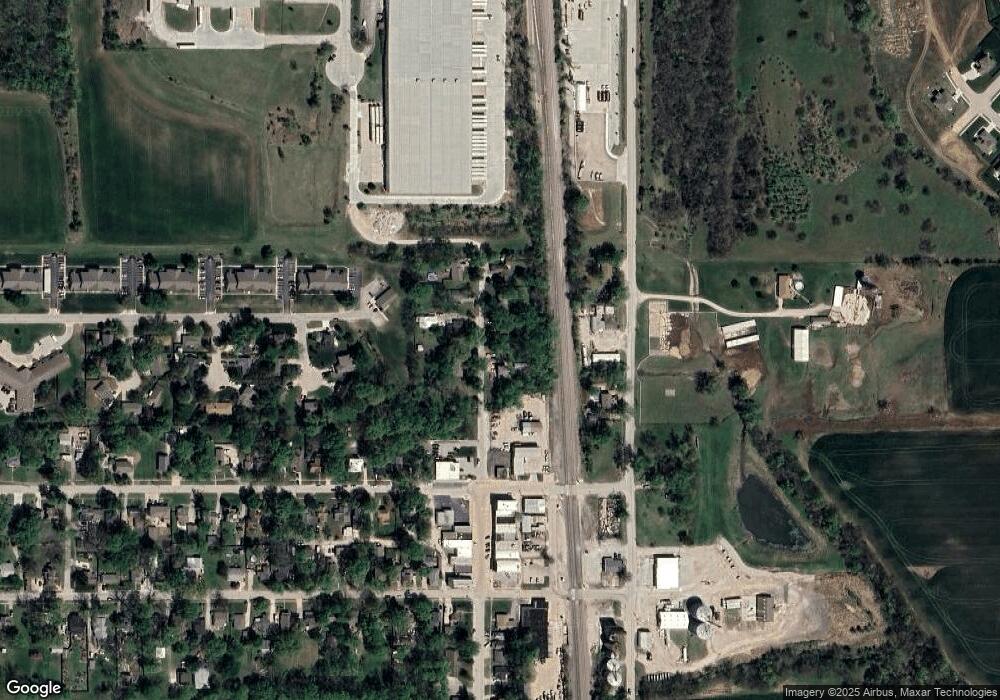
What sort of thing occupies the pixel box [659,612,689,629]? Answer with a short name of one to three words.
shed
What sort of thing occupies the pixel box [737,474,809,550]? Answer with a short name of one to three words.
pond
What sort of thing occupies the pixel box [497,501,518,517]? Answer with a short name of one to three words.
building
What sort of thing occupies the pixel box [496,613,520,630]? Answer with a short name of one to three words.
house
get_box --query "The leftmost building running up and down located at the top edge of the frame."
[388,0,473,195]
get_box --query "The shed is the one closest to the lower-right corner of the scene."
[757,596,775,622]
